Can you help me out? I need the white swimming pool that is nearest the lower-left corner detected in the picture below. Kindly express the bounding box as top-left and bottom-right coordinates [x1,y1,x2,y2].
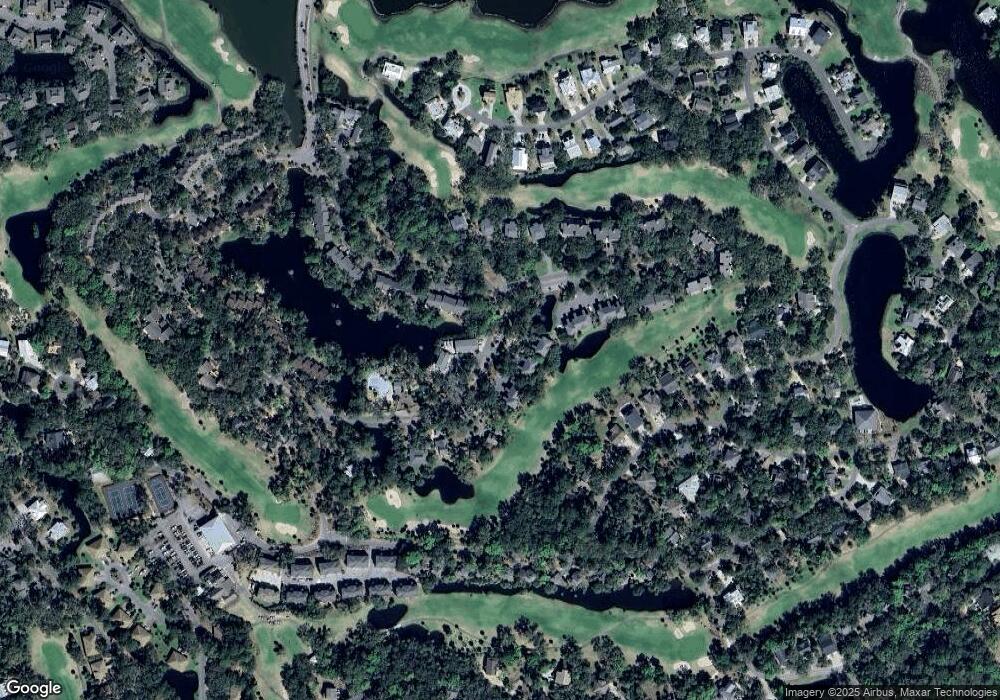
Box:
[366,370,396,402]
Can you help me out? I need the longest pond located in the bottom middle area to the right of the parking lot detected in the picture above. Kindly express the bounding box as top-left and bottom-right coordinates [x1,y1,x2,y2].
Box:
[427,582,696,611]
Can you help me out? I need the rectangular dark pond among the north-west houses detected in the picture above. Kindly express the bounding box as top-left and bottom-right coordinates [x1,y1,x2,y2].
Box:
[1,53,75,82]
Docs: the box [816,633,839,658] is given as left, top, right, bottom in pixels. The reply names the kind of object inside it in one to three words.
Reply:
house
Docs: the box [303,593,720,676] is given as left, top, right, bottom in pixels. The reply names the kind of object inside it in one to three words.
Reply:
golf course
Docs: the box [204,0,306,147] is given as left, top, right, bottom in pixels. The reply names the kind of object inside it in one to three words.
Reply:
pond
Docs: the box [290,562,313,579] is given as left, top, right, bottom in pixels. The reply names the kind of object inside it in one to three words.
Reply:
building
